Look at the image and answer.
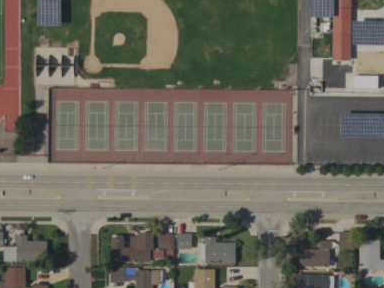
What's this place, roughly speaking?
sports ground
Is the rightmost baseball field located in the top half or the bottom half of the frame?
top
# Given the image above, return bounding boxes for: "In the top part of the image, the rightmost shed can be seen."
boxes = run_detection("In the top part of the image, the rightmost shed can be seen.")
[354,75,379,88]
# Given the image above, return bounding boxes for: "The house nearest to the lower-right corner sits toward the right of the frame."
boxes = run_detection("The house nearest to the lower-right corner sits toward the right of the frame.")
[360,240,384,272]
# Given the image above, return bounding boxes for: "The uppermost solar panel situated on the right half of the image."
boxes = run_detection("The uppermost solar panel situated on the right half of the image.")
[311,0,335,16]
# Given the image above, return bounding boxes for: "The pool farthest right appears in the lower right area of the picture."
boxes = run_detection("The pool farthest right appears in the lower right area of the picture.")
[364,275,384,288]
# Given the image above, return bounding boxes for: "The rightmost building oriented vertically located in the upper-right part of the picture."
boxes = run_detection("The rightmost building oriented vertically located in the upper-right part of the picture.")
[333,0,352,60]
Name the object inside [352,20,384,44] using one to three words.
solar panel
